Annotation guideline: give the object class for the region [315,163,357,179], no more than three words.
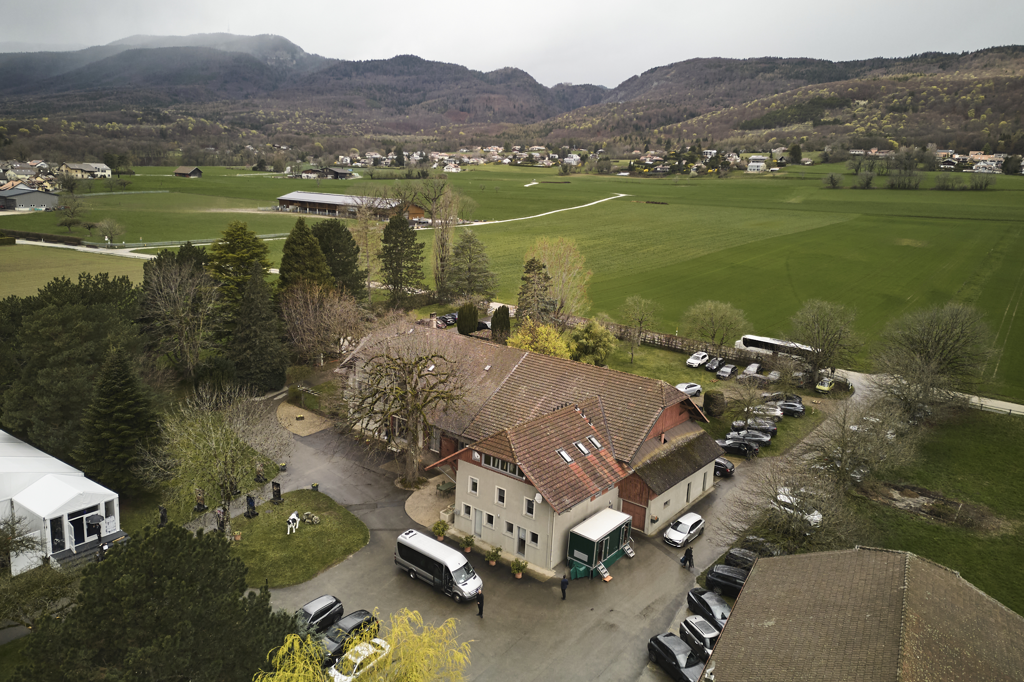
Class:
building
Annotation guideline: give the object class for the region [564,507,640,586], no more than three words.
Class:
trailer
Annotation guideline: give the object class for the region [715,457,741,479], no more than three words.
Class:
car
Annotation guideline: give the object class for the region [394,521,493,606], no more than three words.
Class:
vehicle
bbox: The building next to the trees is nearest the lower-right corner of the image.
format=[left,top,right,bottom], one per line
[699,545,1024,682]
